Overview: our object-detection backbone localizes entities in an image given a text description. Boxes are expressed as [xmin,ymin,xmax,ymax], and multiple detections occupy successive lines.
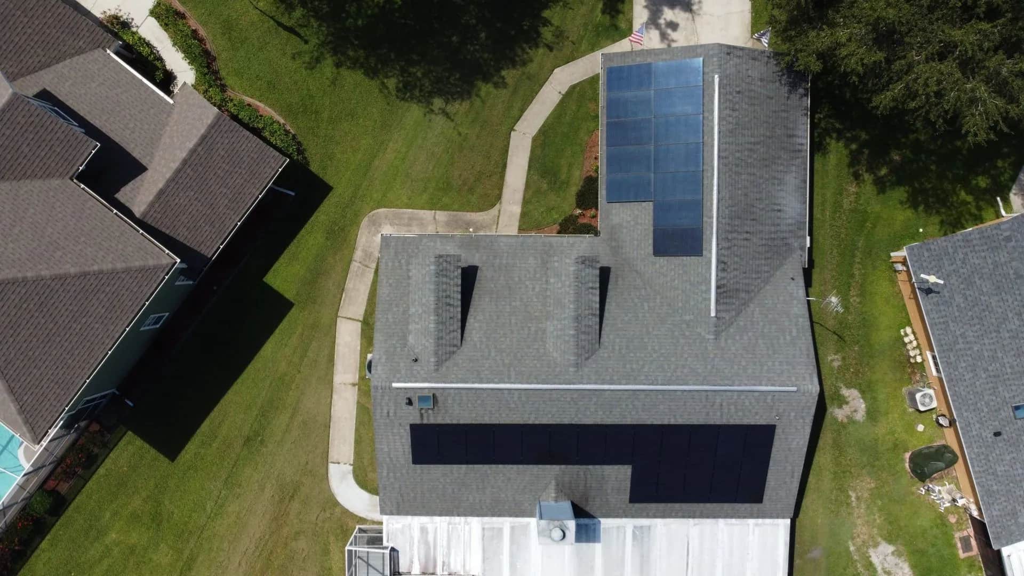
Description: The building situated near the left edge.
[0,0,306,449]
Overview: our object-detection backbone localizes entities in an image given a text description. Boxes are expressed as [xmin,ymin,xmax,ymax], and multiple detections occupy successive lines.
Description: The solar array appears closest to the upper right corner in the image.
[607,58,702,255]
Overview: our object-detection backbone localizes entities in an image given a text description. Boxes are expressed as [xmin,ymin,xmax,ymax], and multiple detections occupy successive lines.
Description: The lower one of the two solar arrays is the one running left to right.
[410,423,776,503]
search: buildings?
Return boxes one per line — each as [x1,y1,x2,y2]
[371,43,820,576]
[887,215,1024,576]
[0,0,306,449]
